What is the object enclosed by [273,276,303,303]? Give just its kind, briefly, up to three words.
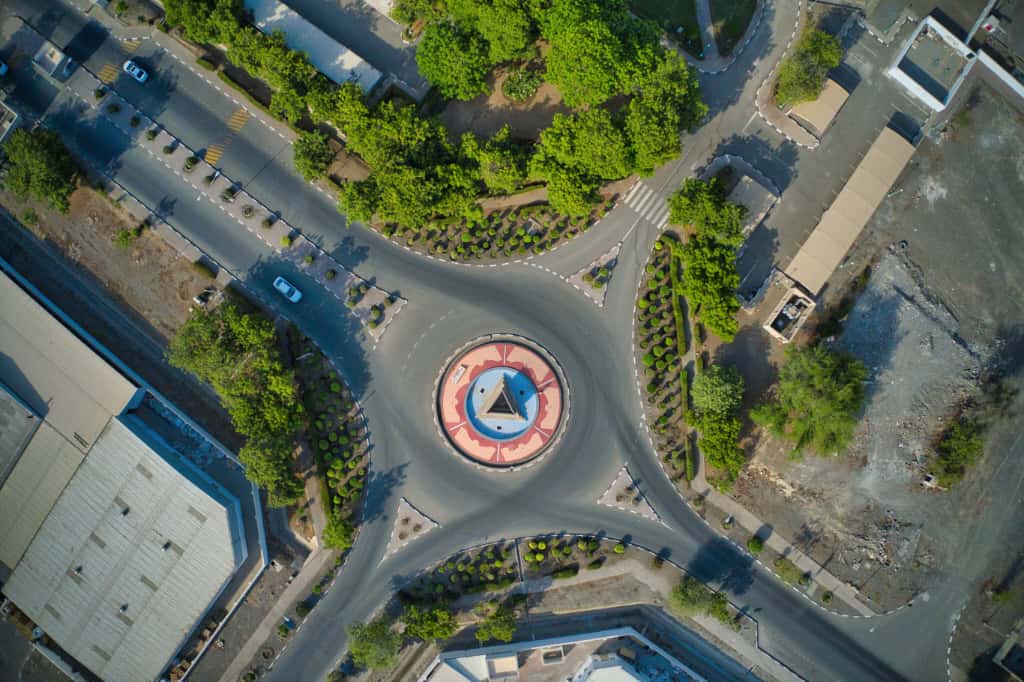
car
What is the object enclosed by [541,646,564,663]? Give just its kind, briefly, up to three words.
building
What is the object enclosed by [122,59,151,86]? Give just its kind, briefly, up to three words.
car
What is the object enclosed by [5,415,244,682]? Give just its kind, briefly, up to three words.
warehouse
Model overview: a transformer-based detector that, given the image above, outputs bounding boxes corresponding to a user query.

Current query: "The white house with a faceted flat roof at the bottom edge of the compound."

[570,646,651,682]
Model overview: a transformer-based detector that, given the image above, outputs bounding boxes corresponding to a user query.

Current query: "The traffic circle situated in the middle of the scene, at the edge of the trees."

[370,270,633,534]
